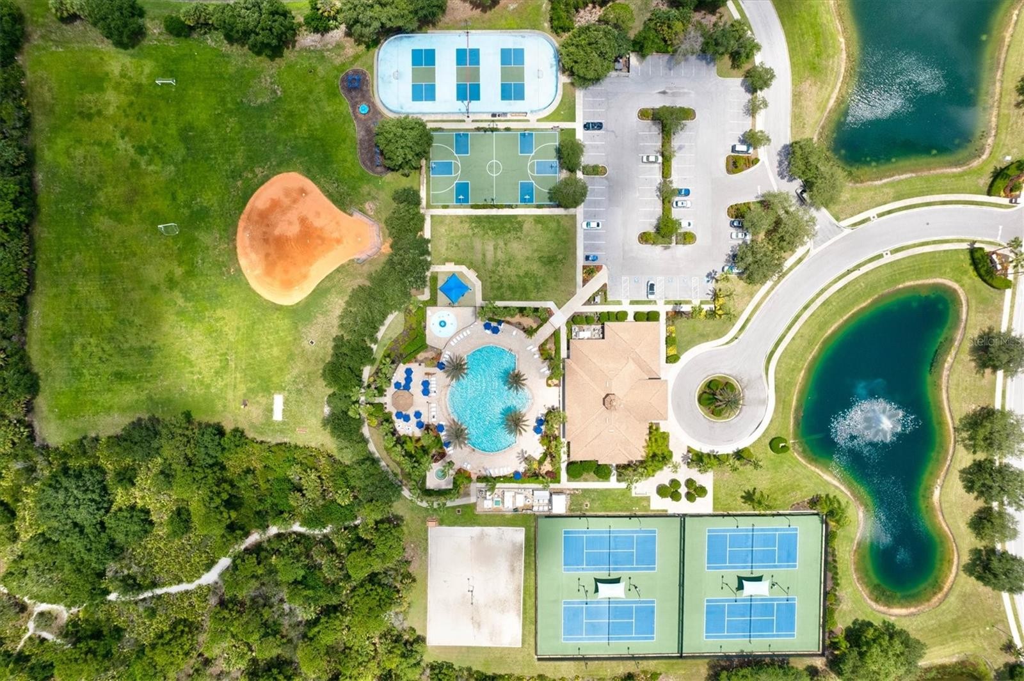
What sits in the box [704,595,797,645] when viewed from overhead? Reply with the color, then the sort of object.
blue tennis court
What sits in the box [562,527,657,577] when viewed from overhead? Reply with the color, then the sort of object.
blue tennis court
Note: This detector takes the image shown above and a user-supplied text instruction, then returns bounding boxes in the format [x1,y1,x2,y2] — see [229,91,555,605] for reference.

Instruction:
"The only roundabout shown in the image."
[672,350,767,445]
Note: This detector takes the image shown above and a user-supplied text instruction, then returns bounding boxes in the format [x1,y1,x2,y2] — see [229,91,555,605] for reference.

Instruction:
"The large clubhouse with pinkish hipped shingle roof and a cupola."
[565,322,667,464]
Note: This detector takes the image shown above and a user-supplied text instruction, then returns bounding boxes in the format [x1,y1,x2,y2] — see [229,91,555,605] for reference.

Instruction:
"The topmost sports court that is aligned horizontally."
[377,31,559,113]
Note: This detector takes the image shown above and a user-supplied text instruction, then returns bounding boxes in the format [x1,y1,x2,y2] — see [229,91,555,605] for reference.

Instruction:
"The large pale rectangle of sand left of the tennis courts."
[427,527,525,647]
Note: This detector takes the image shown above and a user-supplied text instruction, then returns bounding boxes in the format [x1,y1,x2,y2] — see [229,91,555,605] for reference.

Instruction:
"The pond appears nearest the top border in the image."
[815,0,1018,183]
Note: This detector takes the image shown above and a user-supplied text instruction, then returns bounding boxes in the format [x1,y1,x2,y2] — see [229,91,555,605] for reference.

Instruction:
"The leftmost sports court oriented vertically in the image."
[412,49,435,101]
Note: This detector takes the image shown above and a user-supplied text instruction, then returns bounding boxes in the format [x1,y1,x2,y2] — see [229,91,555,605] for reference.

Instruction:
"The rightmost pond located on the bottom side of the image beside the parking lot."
[792,281,964,613]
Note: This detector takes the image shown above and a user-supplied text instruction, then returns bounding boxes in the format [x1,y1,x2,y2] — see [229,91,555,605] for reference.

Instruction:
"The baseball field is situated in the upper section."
[237,172,380,305]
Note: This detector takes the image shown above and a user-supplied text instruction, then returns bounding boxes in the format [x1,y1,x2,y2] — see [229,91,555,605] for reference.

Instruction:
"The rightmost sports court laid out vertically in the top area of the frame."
[501,48,524,100]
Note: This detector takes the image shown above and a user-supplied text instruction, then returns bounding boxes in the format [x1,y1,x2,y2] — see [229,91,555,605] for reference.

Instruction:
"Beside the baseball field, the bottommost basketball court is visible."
[429,130,559,205]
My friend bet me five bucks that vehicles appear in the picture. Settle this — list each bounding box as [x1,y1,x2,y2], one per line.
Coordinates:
[731,231,750,240]
[728,219,748,228]
[672,199,691,208]
[647,280,656,298]
[723,264,743,273]
[585,255,598,261]
[672,188,690,196]
[732,144,752,153]
[584,122,603,130]
[582,221,601,229]
[642,154,662,163]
